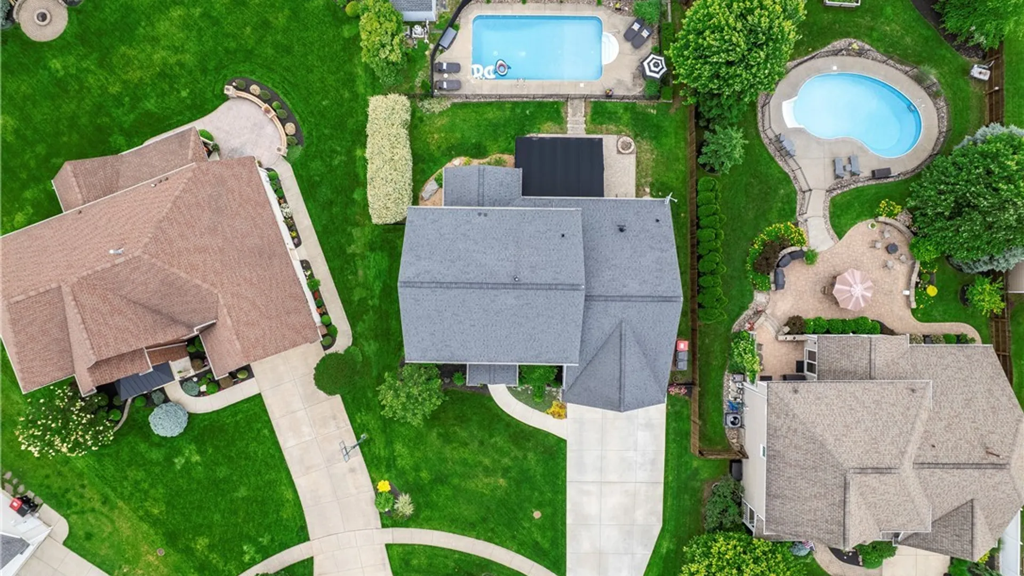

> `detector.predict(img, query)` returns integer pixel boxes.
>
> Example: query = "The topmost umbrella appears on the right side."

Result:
[640,53,666,80]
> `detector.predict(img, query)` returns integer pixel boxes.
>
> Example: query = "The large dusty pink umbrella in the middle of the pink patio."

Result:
[829,268,872,310]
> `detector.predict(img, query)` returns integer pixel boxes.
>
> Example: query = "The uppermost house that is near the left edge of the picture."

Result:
[0,126,326,402]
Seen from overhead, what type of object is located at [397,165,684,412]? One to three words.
house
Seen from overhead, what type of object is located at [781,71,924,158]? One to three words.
swimming pool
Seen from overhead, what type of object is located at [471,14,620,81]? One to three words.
swimming pool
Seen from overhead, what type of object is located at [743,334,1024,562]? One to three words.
house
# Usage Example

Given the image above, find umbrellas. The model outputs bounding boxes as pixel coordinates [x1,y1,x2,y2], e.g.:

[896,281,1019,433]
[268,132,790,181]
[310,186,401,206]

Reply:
[640,53,666,80]
[829,268,872,310]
